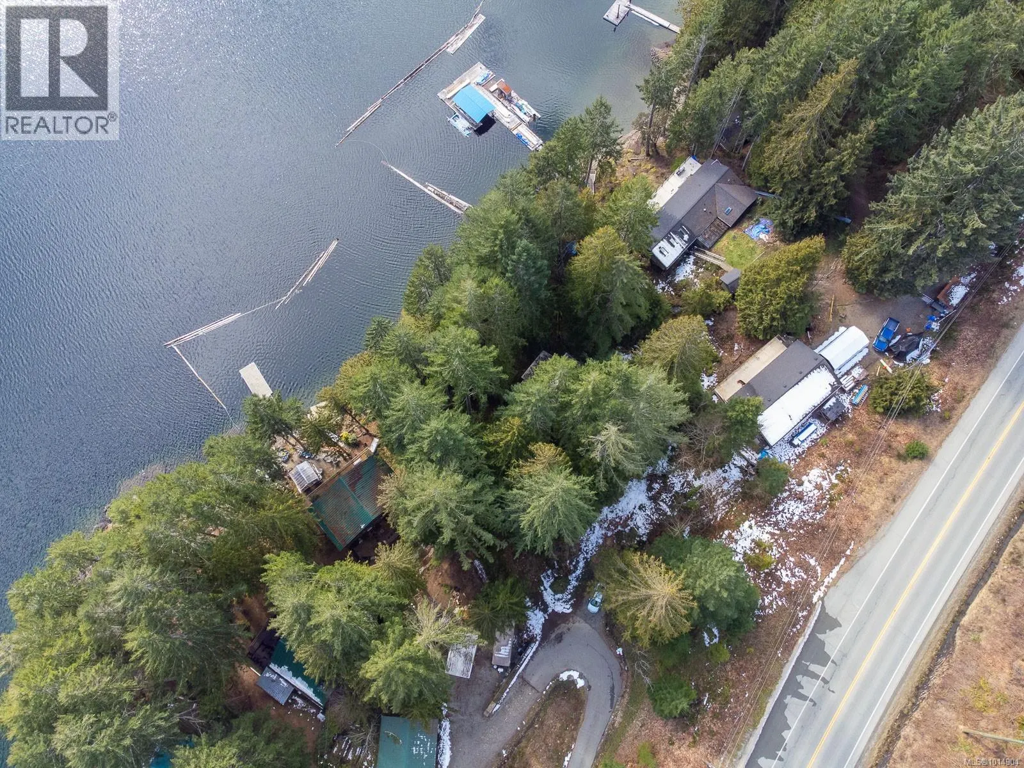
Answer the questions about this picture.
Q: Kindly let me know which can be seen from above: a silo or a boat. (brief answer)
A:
boat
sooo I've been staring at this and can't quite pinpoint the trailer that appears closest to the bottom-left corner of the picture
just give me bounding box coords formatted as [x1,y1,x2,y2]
[492,627,513,677]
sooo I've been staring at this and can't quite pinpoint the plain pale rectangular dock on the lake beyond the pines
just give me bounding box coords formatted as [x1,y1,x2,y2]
[239,360,273,398]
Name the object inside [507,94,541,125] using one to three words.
boat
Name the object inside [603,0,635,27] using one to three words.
pier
